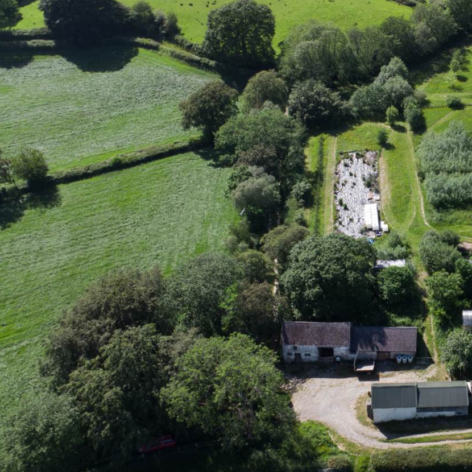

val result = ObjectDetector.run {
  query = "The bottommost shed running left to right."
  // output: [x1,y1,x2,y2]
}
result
[367,379,468,422]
